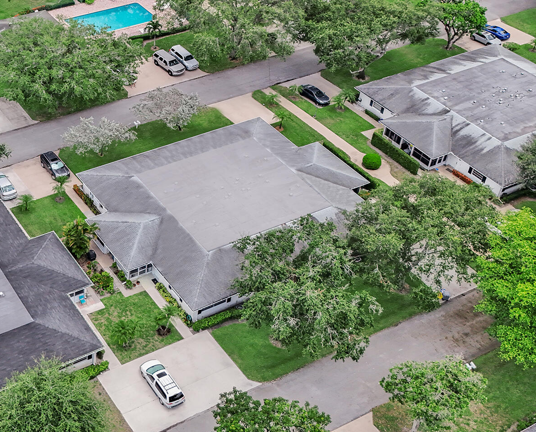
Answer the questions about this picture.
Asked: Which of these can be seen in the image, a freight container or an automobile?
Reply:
automobile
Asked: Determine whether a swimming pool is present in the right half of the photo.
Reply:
No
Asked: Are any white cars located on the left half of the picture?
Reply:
Yes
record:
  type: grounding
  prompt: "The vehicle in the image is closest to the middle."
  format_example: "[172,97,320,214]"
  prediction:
[296,84,334,109]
